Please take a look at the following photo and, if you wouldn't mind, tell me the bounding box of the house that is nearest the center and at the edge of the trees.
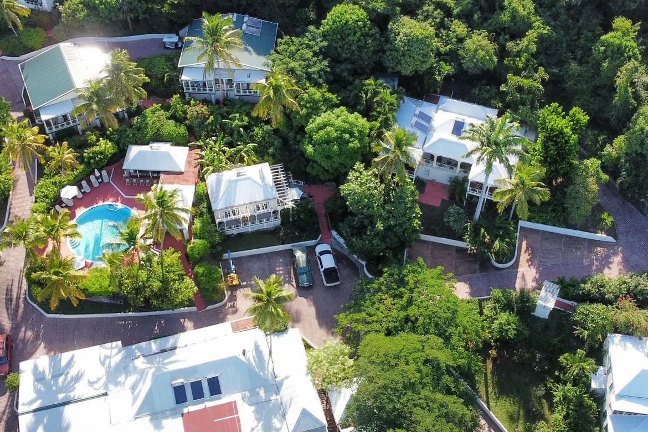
[205,160,308,247]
